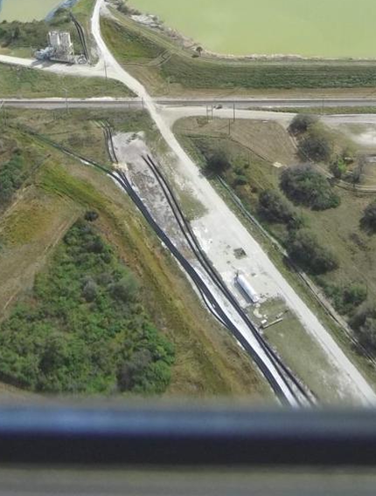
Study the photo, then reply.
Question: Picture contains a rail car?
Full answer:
No, no rail car can be seen from above.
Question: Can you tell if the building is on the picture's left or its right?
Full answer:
You can find the building on the left side of the picture.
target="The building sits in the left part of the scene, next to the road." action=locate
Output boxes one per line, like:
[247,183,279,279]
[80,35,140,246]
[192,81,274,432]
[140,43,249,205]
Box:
[40,34,74,67]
